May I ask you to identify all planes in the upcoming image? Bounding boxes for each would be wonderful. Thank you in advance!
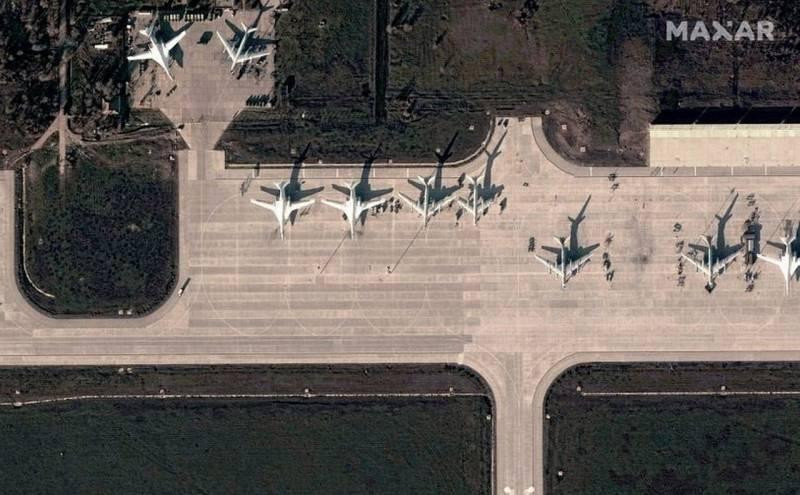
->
[534,234,591,289]
[250,180,313,240]
[124,23,182,80]
[756,233,800,295]
[216,21,270,73]
[681,235,739,290]
[320,179,384,240]
[398,173,455,227]
[458,172,491,226]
